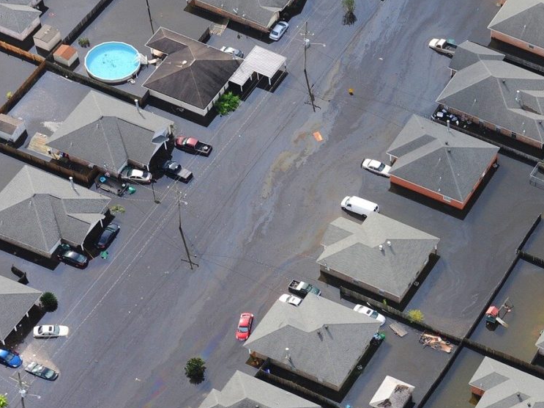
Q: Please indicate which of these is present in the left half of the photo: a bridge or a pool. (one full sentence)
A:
There is a pool in the left half of the photo.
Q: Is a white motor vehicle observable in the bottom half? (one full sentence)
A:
Yes, there is a white motor vehicle in the bottom half.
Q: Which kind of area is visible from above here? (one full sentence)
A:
It's a residential area.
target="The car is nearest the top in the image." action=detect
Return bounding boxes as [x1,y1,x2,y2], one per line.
[267,21,292,44]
